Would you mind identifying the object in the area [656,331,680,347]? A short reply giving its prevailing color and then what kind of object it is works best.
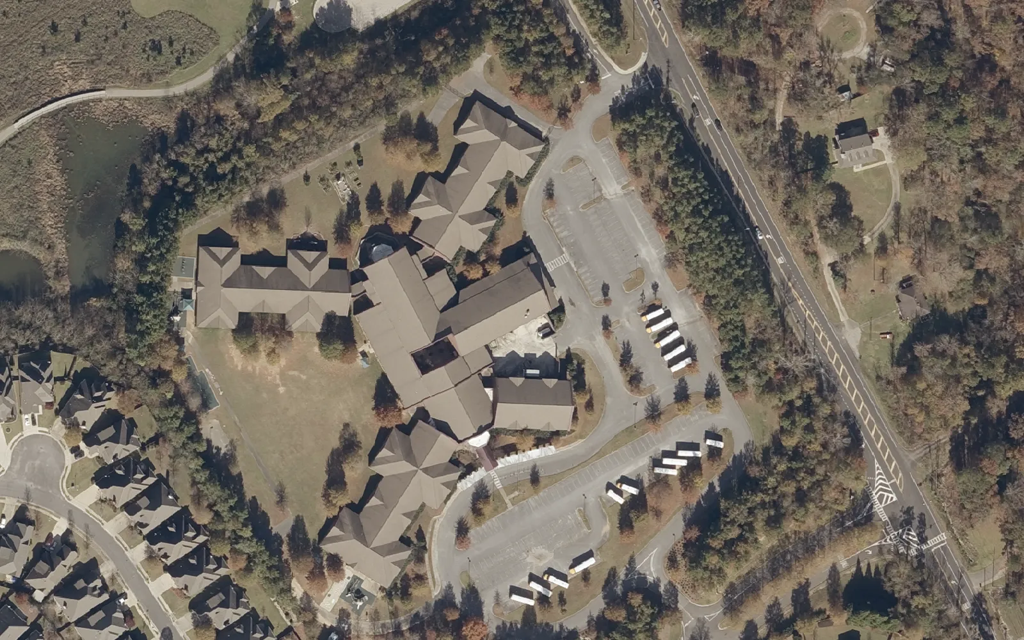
white vehicle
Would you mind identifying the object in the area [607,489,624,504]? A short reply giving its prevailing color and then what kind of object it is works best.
white vehicle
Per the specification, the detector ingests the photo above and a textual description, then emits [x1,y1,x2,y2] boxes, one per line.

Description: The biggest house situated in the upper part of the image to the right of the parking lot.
[836,129,878,170]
